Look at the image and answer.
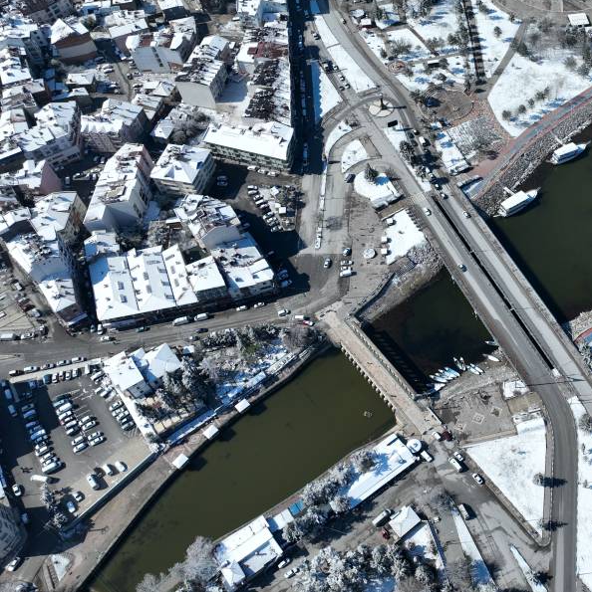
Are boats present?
Yes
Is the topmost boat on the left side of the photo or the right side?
right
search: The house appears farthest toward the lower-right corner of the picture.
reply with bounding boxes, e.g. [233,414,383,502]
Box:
[388,506,420,540]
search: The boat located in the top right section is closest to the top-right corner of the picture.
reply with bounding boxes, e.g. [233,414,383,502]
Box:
[548,138,589,163]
